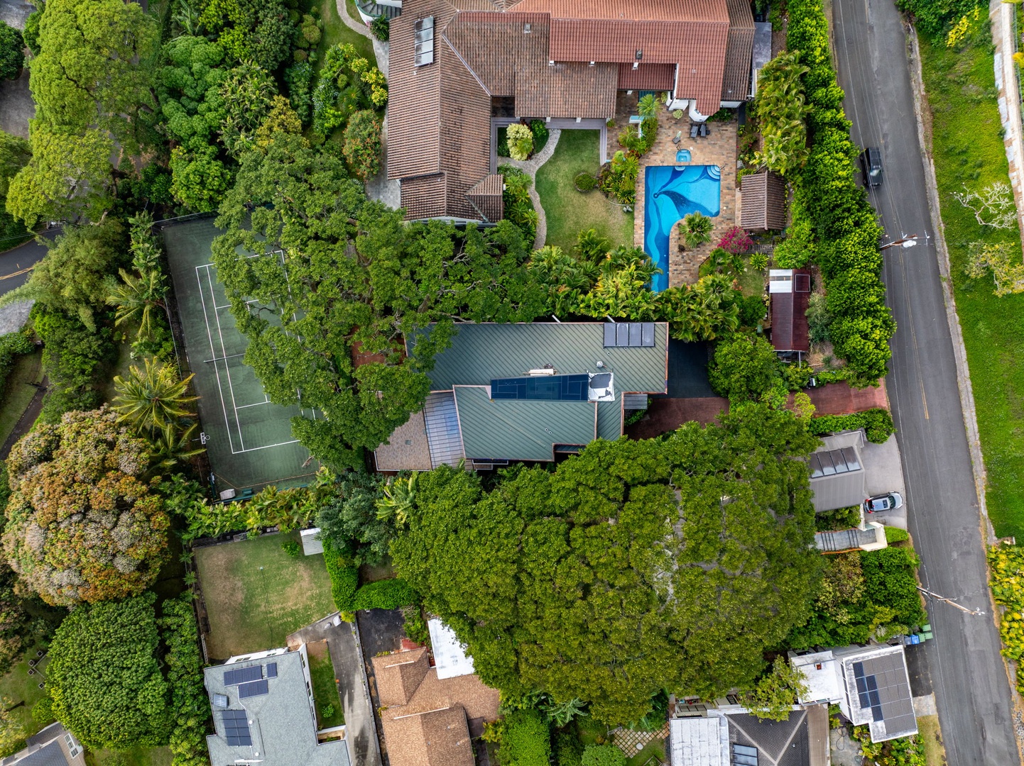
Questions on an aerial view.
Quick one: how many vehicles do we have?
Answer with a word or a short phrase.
2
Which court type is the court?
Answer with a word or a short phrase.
tennis court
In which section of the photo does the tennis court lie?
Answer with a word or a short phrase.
left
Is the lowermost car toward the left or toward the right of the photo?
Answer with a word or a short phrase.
right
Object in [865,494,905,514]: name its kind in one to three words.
car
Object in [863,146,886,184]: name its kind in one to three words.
car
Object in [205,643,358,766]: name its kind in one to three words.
house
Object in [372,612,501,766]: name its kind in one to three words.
house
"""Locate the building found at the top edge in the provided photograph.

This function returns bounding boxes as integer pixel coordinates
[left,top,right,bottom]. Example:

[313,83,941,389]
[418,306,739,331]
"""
[386,0,776,224]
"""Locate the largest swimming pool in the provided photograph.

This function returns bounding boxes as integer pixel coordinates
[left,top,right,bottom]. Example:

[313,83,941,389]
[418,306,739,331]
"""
[641,163,722,300]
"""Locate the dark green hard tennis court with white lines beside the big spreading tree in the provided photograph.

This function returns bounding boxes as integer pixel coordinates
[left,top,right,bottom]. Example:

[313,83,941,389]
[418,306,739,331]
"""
[163,198,354,495]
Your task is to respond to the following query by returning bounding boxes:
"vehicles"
[865,494,905,514]
[863,146,886,184]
